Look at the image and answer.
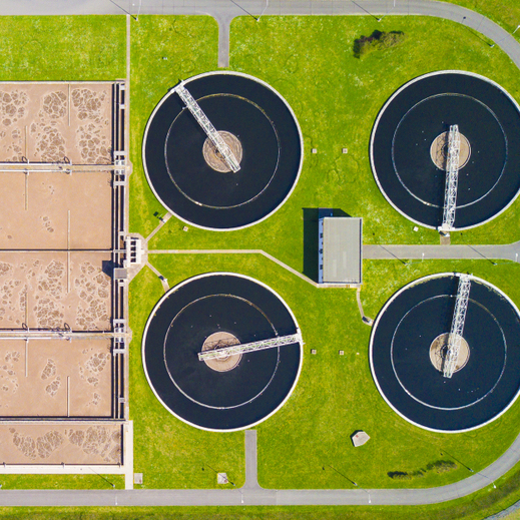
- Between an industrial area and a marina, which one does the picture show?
industrial area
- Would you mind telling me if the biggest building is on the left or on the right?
right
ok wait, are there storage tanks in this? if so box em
[142,70,302,231]
[142,272,301,431]
[368,272,520,432]
[369,70,520,231]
